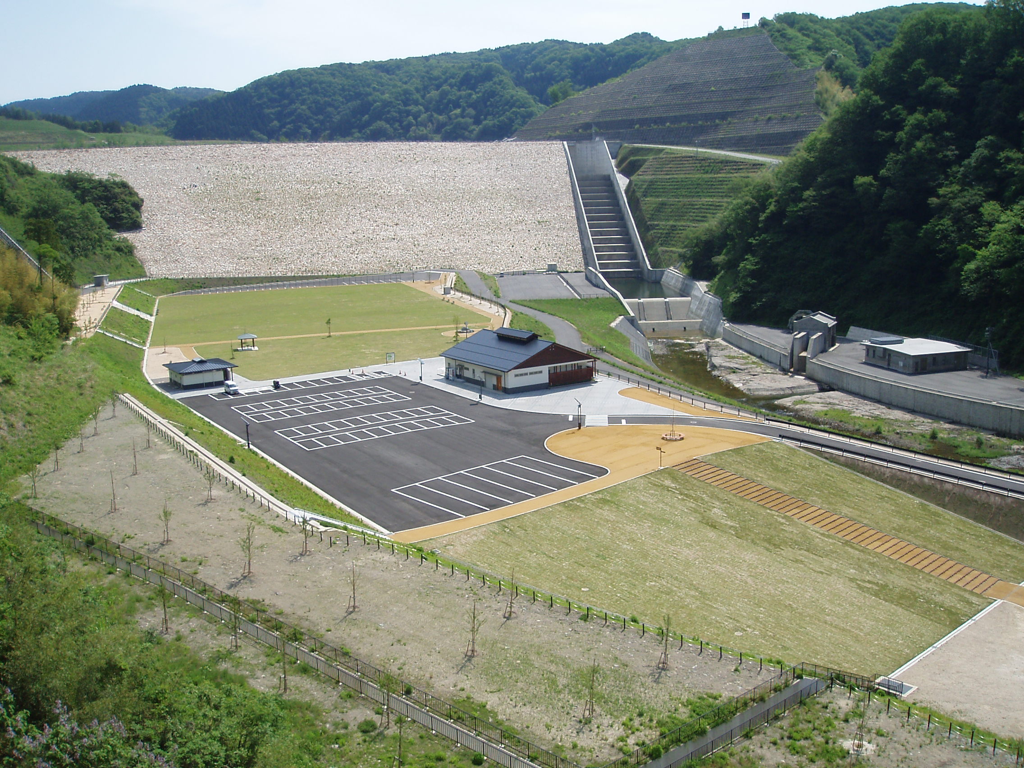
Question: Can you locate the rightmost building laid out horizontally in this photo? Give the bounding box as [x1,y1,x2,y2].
[859,339,978,374]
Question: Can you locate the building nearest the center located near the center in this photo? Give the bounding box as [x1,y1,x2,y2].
[437,325,601,393]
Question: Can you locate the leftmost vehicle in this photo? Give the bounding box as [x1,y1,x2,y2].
[224,377,243,393]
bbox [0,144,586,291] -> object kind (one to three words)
dam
